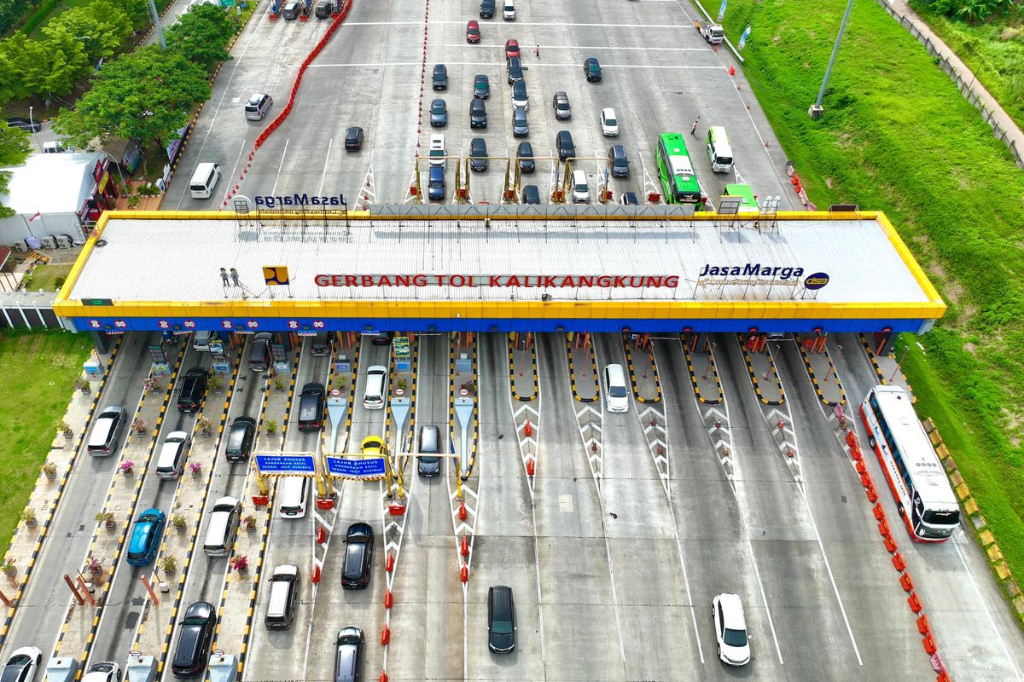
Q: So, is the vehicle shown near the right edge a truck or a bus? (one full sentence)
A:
The vehicle shown near the right edge is a bus.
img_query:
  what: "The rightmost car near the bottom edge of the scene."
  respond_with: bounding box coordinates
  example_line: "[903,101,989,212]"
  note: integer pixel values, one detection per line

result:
[706,587,753,663]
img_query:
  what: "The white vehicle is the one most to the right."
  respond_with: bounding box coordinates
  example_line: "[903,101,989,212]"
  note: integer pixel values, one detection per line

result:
[865,388,978,542]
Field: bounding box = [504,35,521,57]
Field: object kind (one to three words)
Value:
car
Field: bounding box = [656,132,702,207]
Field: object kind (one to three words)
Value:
bus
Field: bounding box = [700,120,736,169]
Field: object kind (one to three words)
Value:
vehicle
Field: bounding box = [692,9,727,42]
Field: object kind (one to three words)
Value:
truck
